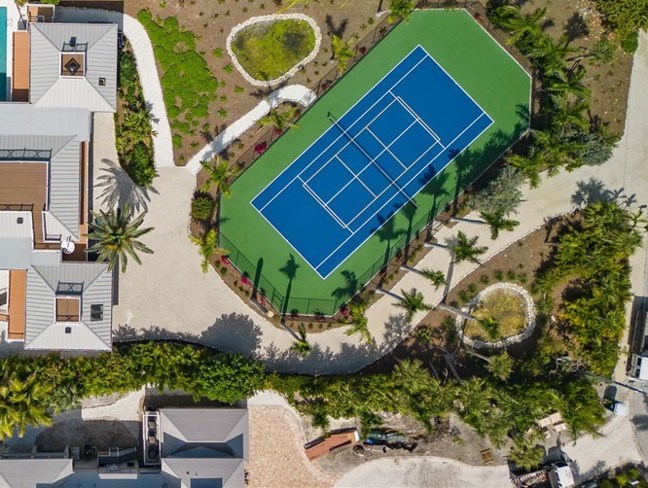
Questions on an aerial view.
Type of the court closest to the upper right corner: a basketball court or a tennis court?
tennis court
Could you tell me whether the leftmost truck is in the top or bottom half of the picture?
bottom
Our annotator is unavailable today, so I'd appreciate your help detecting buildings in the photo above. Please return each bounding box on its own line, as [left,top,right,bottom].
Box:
[0,2,117,351]
[0,408,248,488]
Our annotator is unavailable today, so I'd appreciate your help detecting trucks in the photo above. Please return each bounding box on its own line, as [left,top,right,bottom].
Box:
[502,454,581,488]
[624,303,648,379]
